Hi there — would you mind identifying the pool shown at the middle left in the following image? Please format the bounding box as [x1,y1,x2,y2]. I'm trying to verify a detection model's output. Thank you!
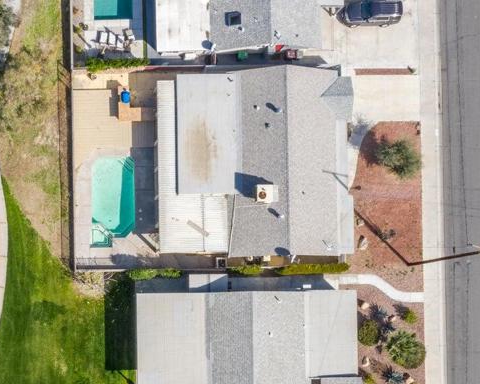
[89,154,138,249]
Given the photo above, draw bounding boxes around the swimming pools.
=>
[91,0,137,22]
[89,154,138,249]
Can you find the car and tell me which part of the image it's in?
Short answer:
top right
